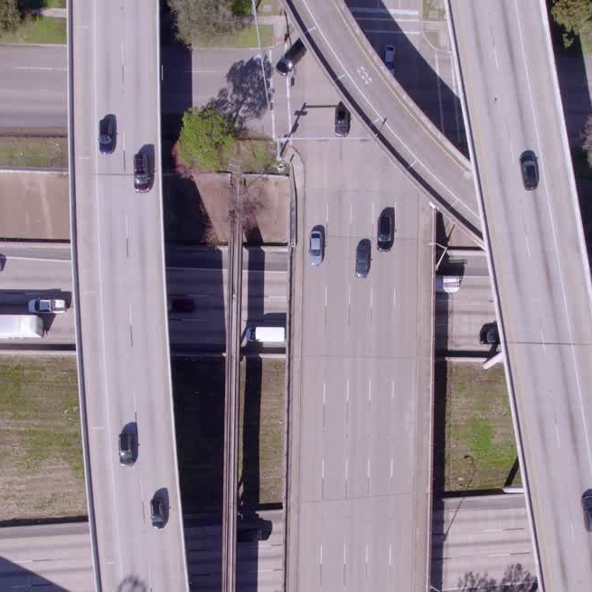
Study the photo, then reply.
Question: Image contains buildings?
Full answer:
No, this view has no building in it.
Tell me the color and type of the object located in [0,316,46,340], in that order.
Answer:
white truck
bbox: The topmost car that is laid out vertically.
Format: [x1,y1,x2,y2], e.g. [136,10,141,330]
[383,43,397,75]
